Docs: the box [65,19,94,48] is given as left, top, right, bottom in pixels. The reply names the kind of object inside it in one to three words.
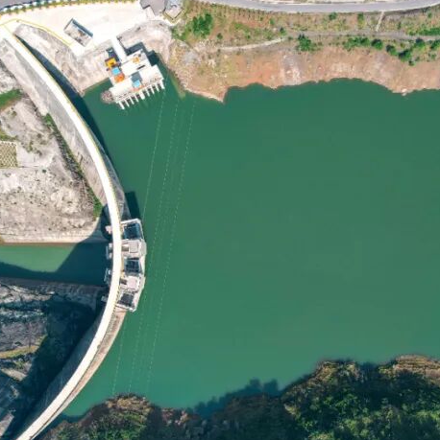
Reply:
building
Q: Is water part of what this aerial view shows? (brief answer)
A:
Yes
